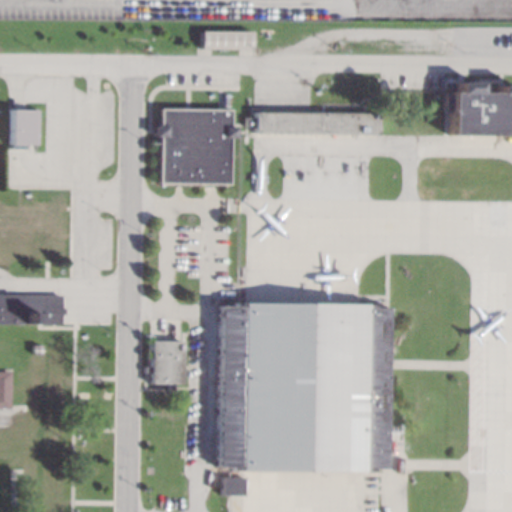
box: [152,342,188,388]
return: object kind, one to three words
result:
building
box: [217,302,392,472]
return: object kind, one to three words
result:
hangar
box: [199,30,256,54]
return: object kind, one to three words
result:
building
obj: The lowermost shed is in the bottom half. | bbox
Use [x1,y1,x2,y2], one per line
[222,476,246,496]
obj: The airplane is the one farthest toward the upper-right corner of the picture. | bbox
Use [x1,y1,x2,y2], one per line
[253,156,270,194]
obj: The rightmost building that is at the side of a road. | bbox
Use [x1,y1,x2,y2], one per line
[446,84,512,136]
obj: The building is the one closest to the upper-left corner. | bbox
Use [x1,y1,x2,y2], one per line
[8,109,42,152]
